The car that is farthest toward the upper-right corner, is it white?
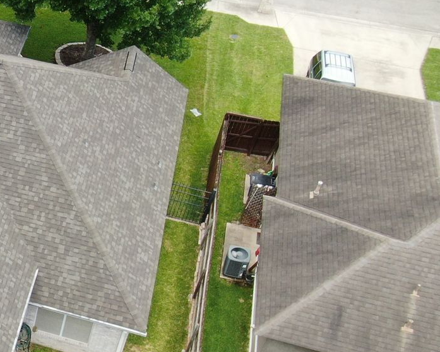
Yes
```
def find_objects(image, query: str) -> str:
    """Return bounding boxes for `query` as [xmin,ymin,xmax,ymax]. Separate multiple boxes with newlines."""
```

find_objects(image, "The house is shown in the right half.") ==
[247,74,440,352]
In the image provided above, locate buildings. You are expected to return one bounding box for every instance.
[247,74,440,352]
[0,19,188,352]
